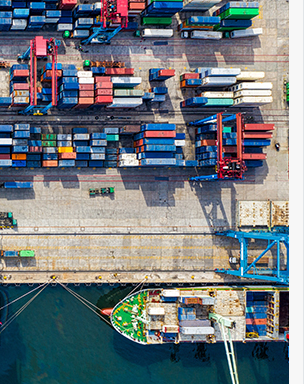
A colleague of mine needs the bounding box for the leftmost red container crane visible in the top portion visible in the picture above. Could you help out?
[17,34,58,118]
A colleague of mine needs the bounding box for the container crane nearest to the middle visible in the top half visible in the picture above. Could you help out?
[187,113,244,185]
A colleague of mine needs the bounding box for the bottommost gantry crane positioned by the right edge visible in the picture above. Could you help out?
[217,220,304,317]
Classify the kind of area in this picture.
port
